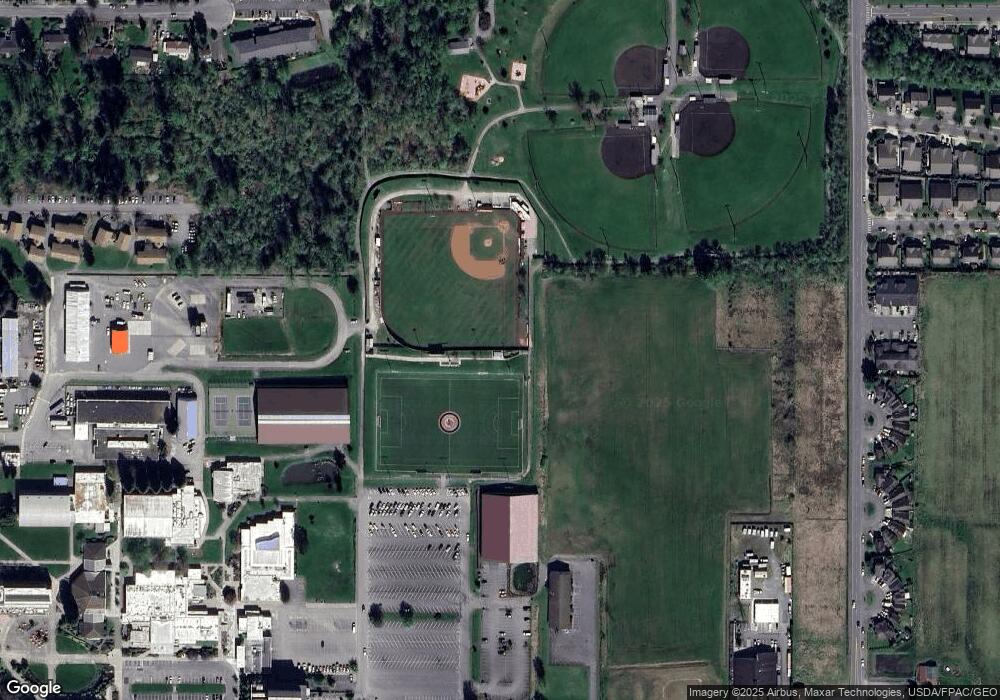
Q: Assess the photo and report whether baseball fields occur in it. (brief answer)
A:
Yes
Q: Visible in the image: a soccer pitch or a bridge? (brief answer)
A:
soccer pitch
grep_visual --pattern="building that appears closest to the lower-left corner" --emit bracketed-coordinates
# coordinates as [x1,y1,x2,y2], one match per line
[0,581,52,614]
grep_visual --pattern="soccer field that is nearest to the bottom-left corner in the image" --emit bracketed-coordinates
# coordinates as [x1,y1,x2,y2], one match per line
[366,361,528,474]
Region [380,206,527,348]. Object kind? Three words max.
baseball field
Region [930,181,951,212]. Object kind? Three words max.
house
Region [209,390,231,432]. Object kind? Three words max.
tennis court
